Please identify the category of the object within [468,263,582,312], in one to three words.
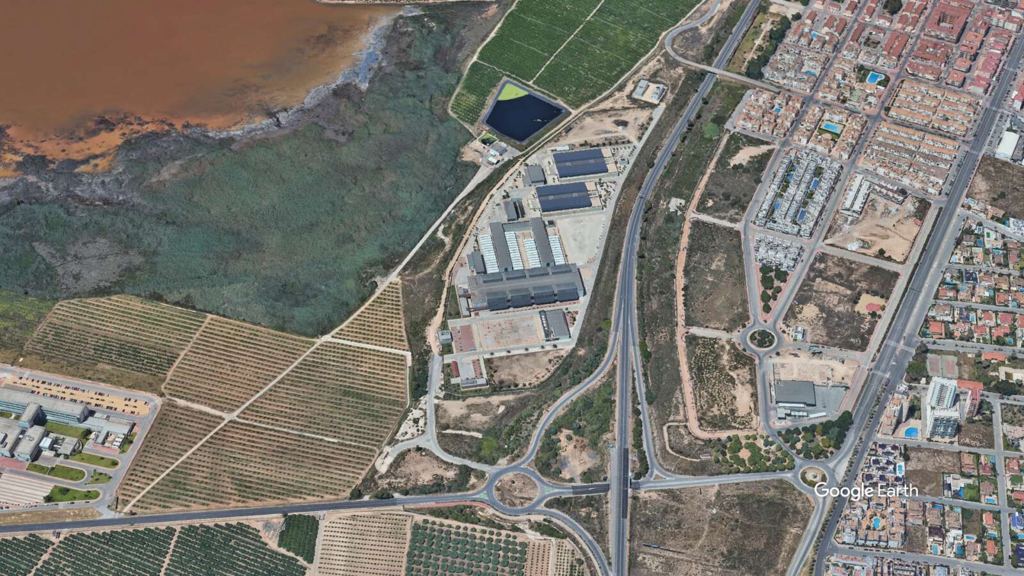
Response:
building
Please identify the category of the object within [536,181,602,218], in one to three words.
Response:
building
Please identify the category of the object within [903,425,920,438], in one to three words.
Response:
swimming pool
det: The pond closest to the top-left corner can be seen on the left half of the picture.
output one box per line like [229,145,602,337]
[0,0,430,180]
